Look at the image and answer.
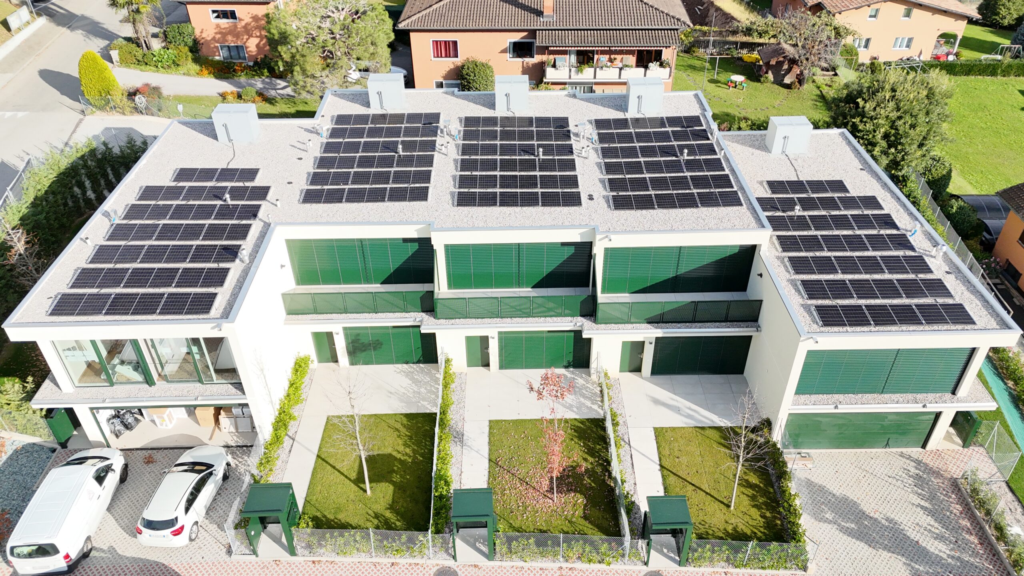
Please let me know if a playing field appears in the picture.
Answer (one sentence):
No, the picture doesn't show any playing field.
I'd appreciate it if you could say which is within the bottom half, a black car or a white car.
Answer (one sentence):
Looking within the bottom half, you will find a white car.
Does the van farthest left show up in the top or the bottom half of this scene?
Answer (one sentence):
The van farthest left sits in the bottom half of the picture.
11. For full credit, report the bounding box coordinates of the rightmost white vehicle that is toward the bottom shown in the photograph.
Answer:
[131,453,227,555]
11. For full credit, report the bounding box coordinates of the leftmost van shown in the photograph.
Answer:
[7,452,128,576]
